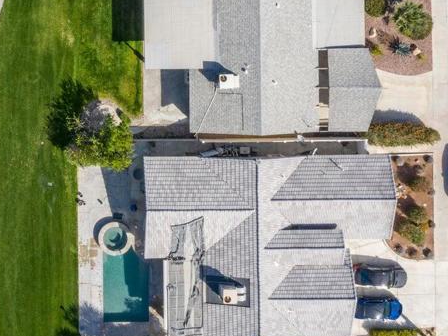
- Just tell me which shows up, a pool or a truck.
pool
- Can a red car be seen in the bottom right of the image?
No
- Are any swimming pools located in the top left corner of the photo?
No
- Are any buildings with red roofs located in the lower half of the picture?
No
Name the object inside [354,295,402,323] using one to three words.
car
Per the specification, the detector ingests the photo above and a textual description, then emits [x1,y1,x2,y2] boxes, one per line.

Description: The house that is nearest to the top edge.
[140,0,381,135]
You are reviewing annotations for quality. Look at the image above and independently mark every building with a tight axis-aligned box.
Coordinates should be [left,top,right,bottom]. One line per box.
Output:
[143,155,397,336]
[140,0,381,135]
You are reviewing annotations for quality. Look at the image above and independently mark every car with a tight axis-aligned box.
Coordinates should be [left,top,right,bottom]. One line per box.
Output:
[351,262,407,290]
[354,295,402,323]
